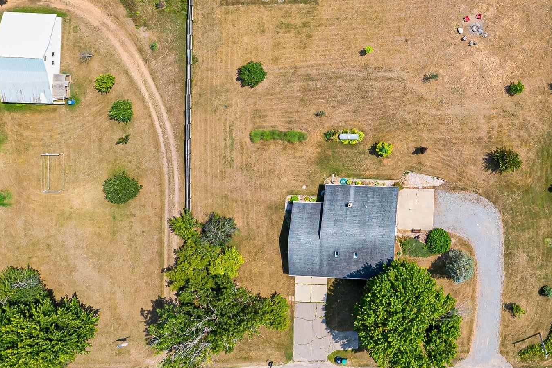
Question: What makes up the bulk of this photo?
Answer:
grass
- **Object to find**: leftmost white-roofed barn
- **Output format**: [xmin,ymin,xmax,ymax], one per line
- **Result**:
[0,12,62,103]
